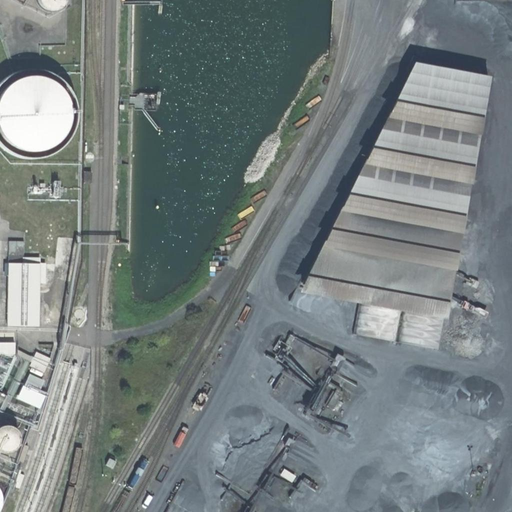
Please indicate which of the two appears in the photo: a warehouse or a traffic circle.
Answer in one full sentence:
The image shows a warehouse.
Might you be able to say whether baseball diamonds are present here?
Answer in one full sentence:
No, there's no baseball diamond here.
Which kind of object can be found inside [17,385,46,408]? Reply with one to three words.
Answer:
building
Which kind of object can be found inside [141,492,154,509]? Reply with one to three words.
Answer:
vehicle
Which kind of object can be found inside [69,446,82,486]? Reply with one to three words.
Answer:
rail car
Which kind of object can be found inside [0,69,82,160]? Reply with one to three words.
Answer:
storage tank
